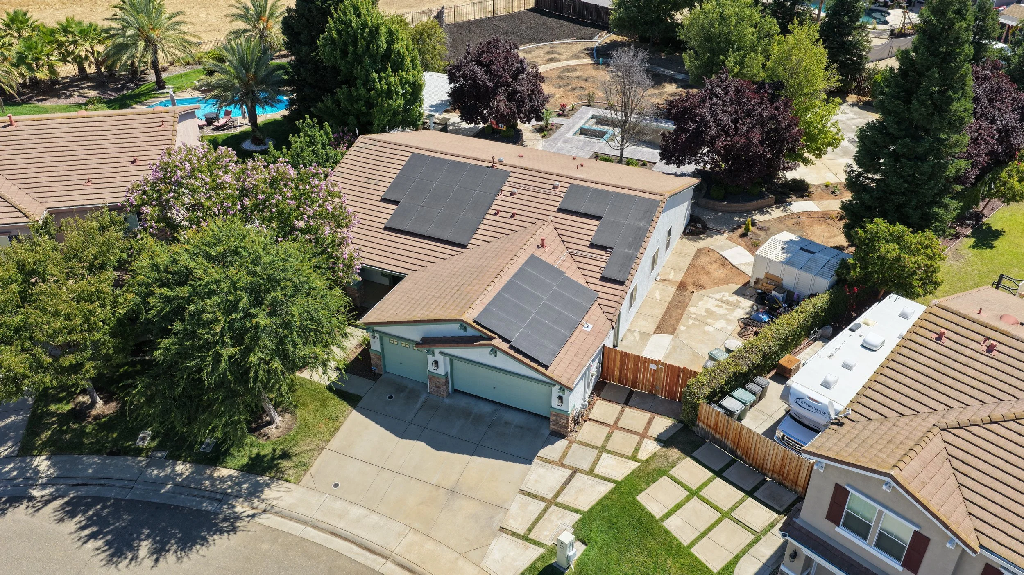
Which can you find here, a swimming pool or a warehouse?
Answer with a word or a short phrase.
swimming pool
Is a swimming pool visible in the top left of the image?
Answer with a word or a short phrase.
Yes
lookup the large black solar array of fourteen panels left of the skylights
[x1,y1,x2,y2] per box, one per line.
[381,152,508,247]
